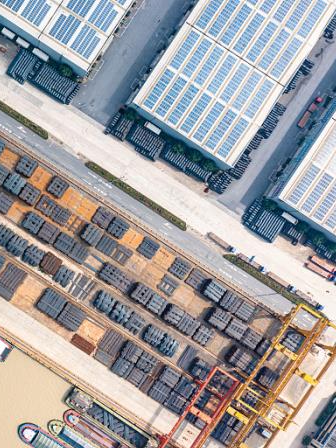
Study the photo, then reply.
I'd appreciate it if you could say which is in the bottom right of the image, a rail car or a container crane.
container crane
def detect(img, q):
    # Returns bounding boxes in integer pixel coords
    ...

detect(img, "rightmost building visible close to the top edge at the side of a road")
[126,0,336,172]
